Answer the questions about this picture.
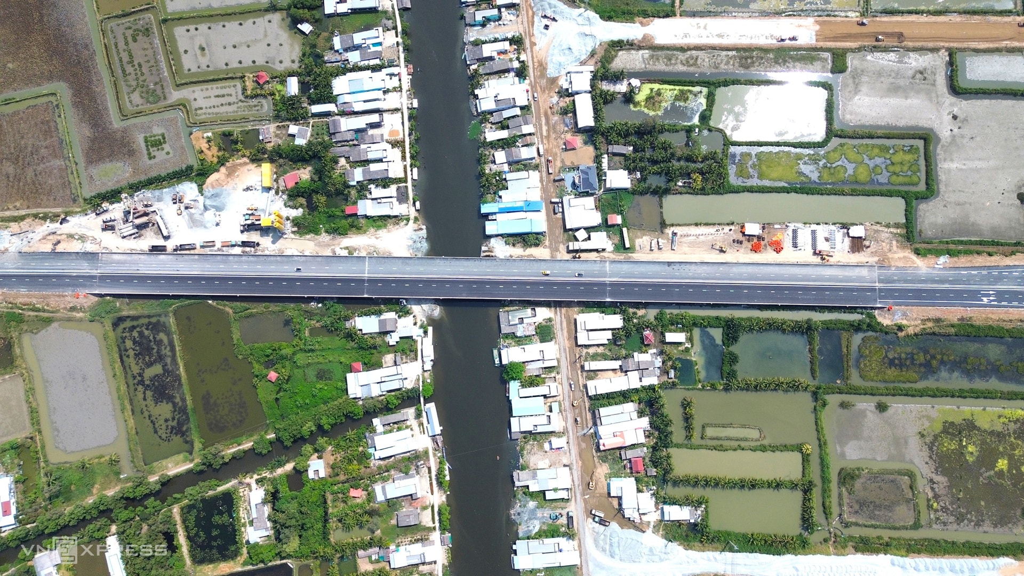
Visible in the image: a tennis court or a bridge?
bridge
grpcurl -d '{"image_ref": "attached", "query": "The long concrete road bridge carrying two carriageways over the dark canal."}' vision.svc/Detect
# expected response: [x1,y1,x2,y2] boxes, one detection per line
[95,253,887,307]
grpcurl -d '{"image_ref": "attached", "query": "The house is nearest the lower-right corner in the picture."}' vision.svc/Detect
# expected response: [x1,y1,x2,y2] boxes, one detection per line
[659,503,696,522]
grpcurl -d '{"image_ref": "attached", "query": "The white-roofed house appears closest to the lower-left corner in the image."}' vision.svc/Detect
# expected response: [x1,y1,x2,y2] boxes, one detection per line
[32,544,65,576]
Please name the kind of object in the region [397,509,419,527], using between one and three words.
house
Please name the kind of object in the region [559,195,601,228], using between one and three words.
building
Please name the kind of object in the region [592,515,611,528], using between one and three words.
vehicle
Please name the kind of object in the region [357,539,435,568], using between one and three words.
house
